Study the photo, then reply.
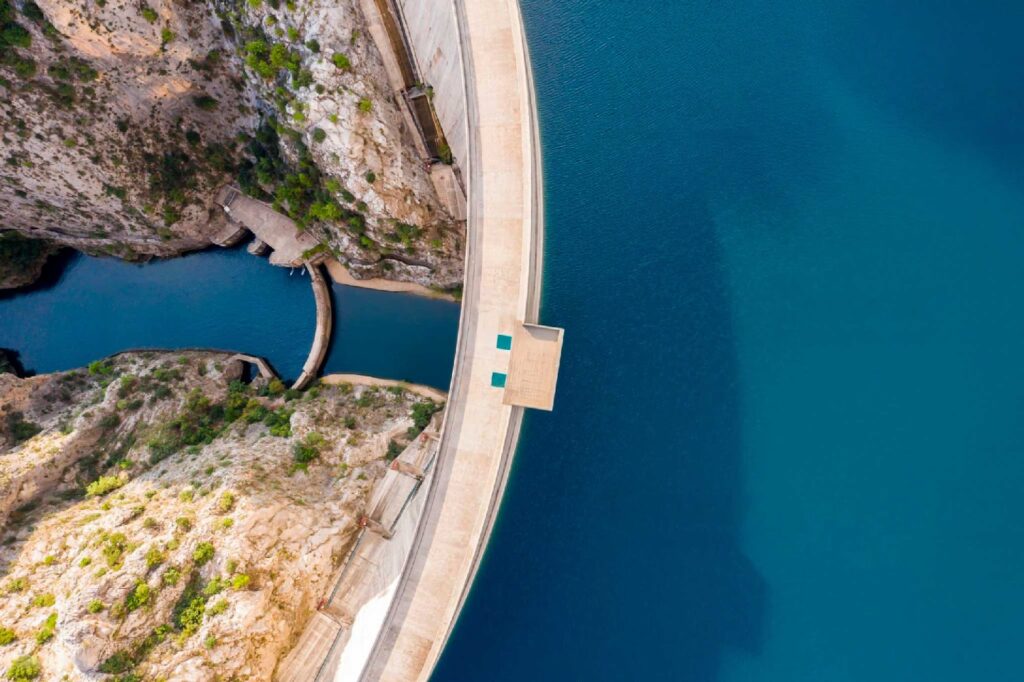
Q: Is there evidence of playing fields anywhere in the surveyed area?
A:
No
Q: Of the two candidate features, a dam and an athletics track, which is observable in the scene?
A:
dam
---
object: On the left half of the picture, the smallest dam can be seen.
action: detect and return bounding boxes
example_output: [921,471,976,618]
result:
[291,257,336,393]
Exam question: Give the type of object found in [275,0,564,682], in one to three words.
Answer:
dam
